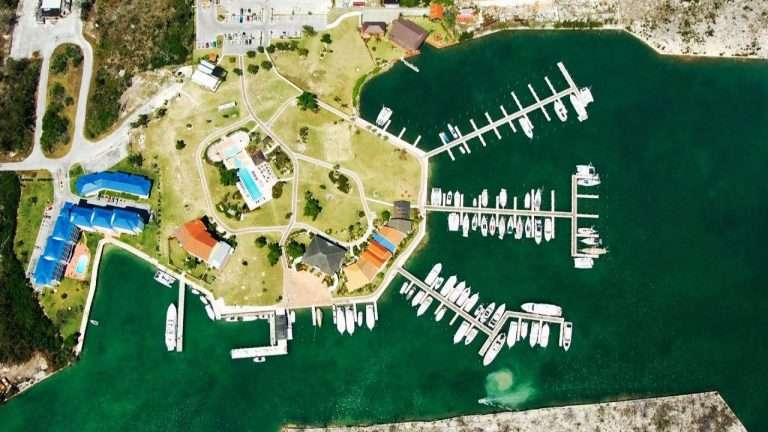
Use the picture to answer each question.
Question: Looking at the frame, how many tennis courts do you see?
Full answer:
No tennis courts are visible.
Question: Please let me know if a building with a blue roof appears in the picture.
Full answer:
Yes, a building with a blue roof can be made out from above.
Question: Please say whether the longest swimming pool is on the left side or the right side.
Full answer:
It is on the left.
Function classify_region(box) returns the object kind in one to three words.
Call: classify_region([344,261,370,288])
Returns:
building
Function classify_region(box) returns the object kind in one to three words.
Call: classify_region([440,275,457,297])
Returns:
boat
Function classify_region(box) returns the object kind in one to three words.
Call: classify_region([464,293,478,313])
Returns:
boat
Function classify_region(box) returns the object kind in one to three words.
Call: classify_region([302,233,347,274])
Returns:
building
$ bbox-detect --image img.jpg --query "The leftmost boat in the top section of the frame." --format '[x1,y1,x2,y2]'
[376,106,391,127]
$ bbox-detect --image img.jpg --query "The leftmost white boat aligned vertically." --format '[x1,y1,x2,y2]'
[163,303,176,352]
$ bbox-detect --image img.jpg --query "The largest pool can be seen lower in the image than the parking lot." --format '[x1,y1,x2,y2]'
[238,167,262,200]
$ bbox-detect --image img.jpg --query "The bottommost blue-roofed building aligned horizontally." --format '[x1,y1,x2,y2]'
[69,206,146,235]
